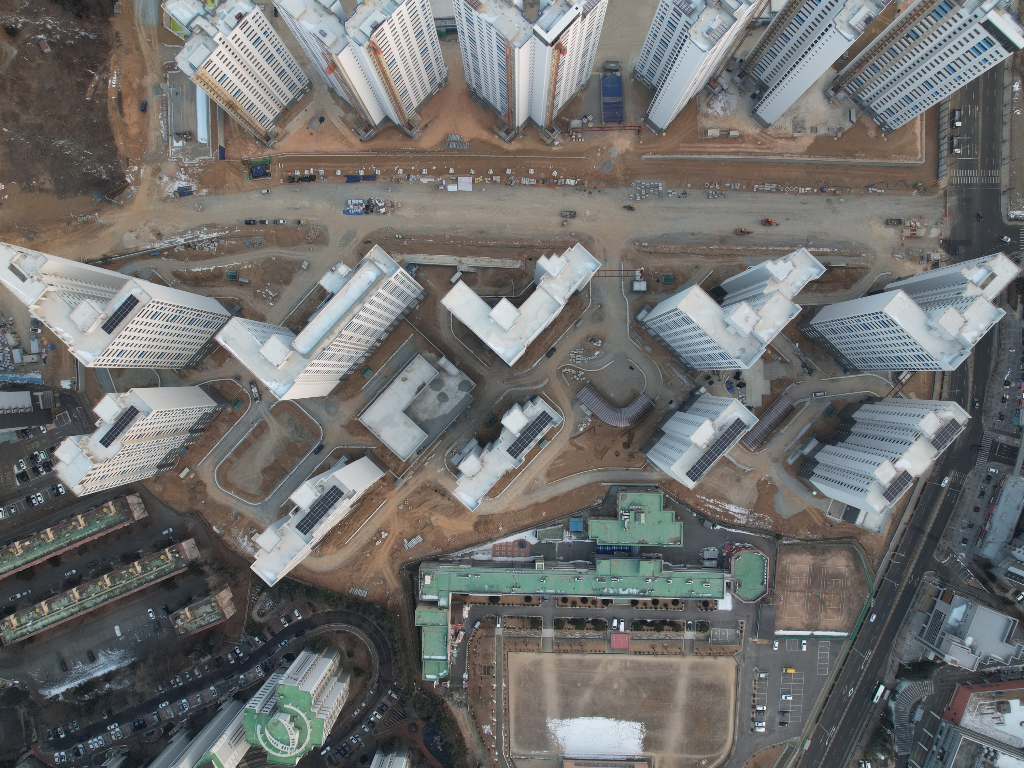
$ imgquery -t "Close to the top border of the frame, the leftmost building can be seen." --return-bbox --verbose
[161,0,318,150]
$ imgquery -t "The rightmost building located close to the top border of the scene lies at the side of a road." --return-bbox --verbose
[836,0,1024,132]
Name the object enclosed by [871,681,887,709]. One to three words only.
vehicle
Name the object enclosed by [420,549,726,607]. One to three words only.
building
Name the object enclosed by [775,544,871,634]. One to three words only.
tennis court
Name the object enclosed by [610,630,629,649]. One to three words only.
shed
